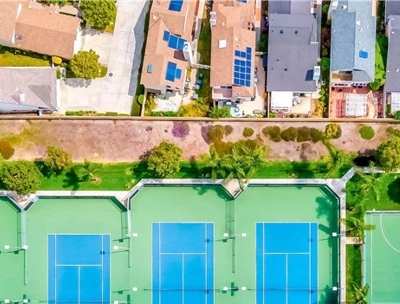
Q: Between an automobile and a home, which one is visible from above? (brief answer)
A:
home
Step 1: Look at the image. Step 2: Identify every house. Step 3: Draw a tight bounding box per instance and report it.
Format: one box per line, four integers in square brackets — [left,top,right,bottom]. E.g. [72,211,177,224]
[381,0,400,98]
[0,0,83,61]
[141,0,196,97]
[210,0,255,98]
[0,68,61,112]
[328,0,375,88]
[267,0,321,97]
